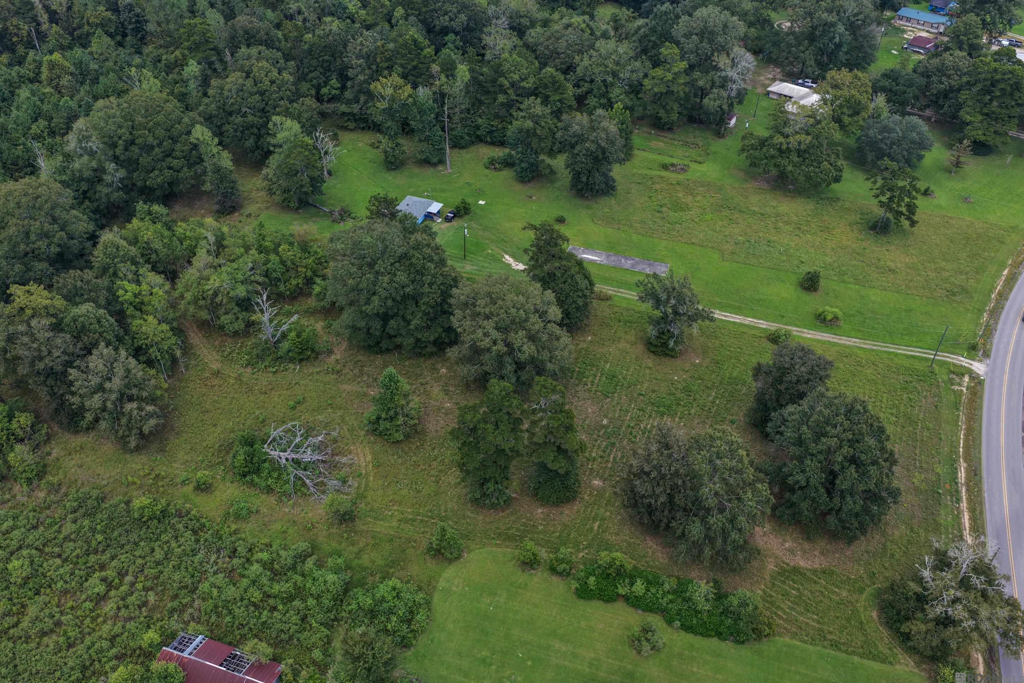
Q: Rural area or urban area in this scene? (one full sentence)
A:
The area is rural.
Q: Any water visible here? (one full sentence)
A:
No, no water is visible.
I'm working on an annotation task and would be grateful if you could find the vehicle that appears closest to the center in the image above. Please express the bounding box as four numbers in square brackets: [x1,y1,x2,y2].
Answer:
[442,208,456,222]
